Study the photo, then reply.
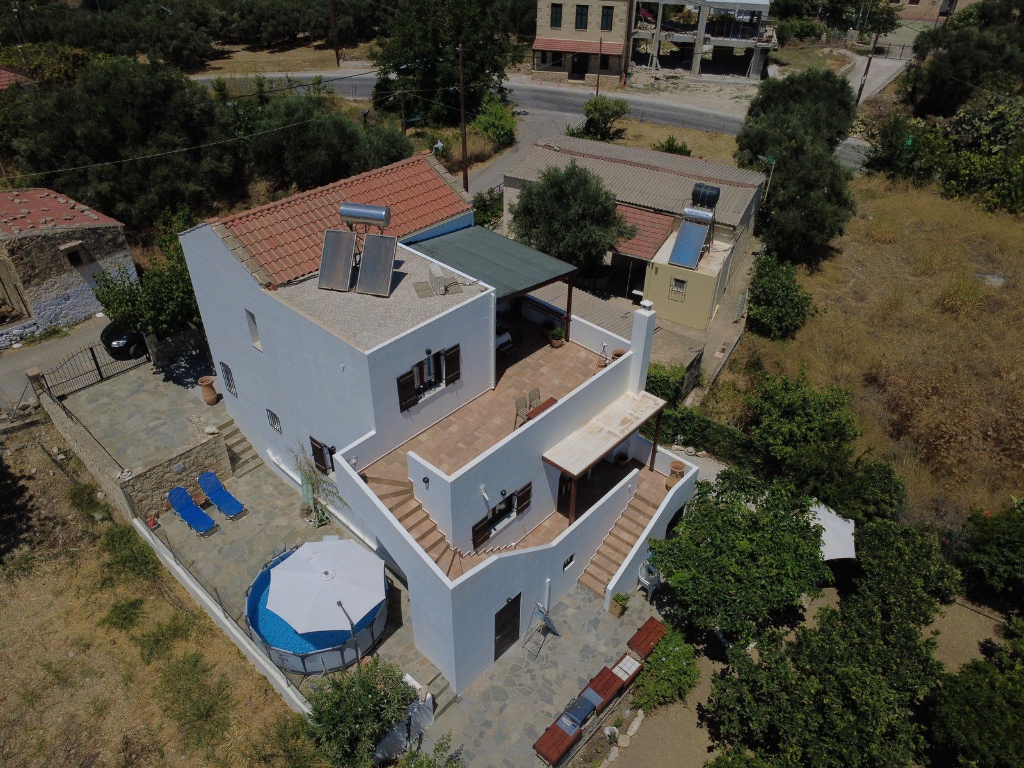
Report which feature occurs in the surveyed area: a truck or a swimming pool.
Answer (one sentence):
The one in the frame is a swimming pool.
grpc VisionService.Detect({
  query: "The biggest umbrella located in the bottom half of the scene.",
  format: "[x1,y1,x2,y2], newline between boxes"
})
[265,539,386,642]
